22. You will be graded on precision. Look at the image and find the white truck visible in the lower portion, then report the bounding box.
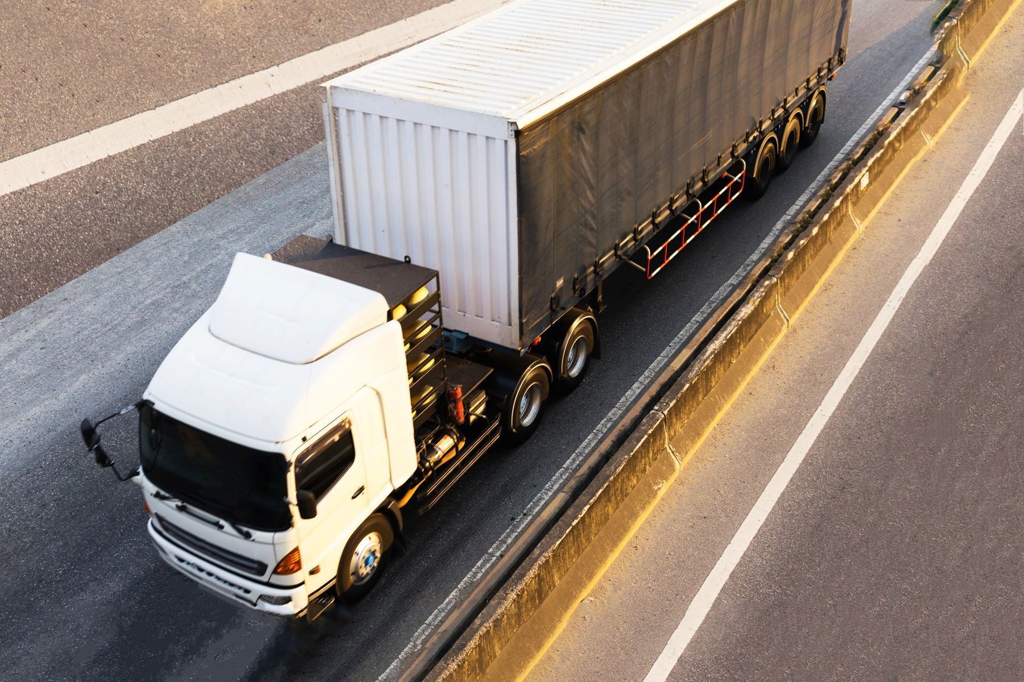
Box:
[74,227,600,626]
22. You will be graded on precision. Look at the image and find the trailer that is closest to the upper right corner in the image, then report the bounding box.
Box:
[323,0,852,359]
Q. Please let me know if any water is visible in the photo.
No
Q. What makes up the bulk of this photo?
paved ground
